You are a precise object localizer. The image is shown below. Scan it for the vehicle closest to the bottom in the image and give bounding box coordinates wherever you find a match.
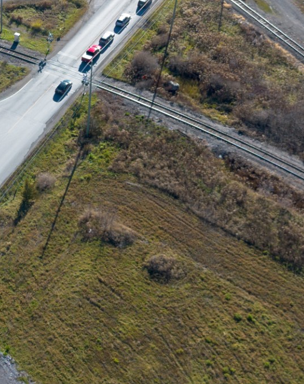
[53,81,74,98]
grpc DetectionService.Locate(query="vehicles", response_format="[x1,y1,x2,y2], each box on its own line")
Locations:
[98,32,115,46]
[53,81,74,98]
[137,0,153,11]
[80,44,102,62]
[115,14,131,28]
